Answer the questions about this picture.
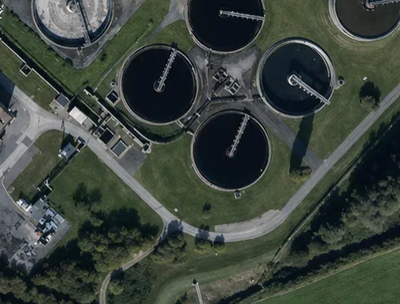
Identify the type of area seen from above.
industrial area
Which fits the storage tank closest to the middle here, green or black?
black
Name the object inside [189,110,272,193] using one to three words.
storage tank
